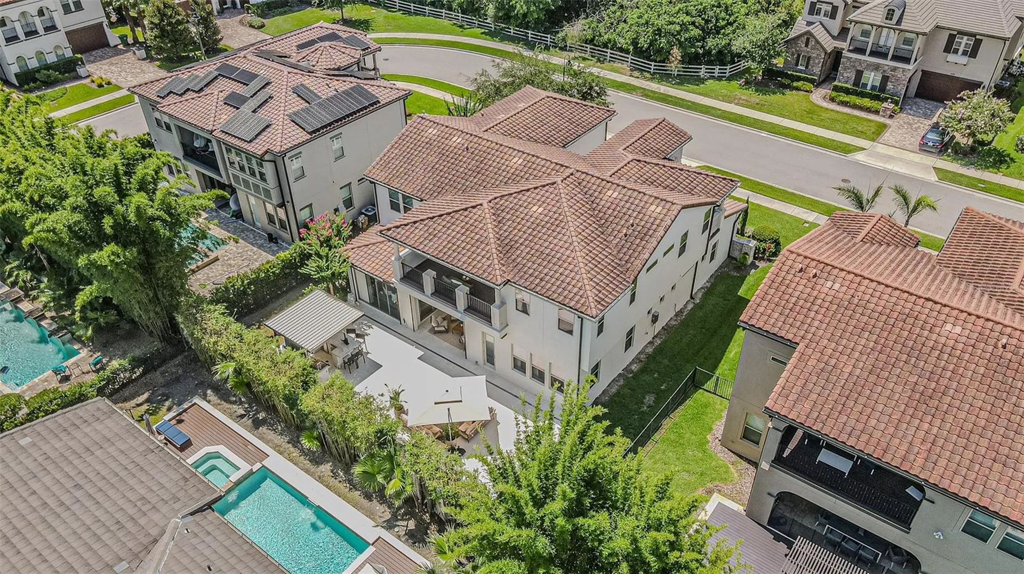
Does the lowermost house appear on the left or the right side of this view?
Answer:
left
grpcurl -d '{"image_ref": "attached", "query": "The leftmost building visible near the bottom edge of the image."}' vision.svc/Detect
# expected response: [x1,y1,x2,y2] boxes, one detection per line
[0,399,293,574]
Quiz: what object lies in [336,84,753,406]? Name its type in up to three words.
house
